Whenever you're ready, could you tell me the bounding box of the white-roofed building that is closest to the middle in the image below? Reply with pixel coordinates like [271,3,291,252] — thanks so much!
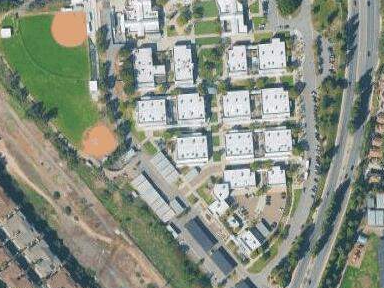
[176,136,208,165]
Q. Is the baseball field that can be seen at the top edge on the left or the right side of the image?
left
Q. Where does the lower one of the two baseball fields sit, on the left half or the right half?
left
